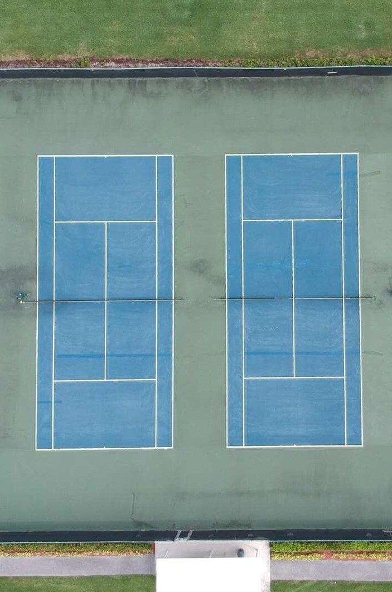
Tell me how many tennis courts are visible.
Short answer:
2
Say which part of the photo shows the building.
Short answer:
bottom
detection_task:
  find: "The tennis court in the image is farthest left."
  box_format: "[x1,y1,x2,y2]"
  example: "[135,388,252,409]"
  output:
[36,155,172,450]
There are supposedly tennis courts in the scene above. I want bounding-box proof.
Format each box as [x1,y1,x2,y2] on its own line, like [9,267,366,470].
[36,155,172,450]
[224,152,363,448]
